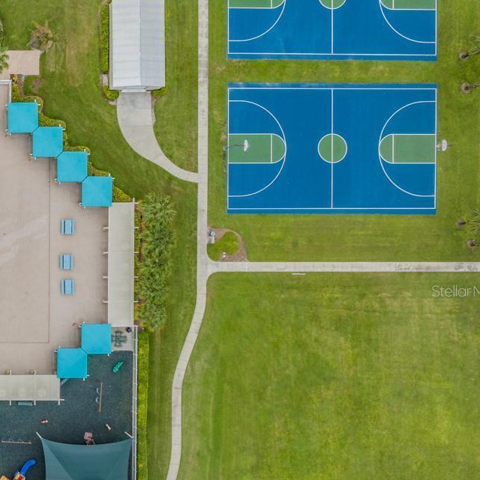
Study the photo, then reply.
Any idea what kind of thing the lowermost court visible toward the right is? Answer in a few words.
basketball court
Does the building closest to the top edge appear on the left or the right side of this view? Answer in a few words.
left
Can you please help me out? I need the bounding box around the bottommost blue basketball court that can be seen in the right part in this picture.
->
[227,83,437,214]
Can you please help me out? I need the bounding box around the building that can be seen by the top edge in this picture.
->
[110,0,169,94]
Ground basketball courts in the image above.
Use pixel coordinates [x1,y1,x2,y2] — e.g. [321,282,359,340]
[227,0,437,60]
[227,83,437,214]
